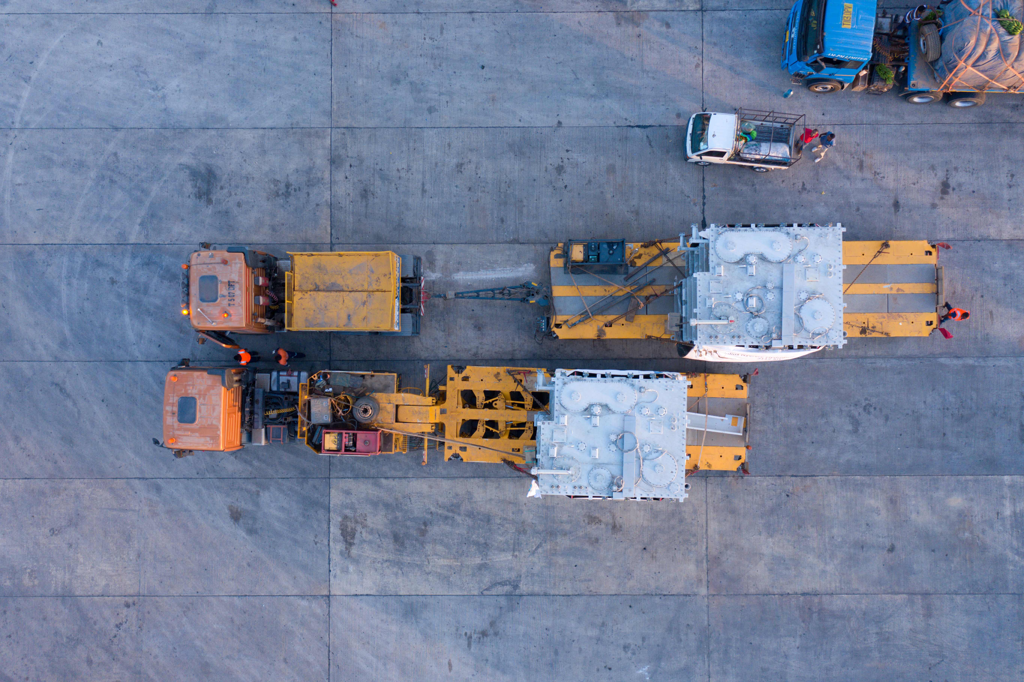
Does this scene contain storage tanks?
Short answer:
Yes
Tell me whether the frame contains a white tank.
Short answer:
No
